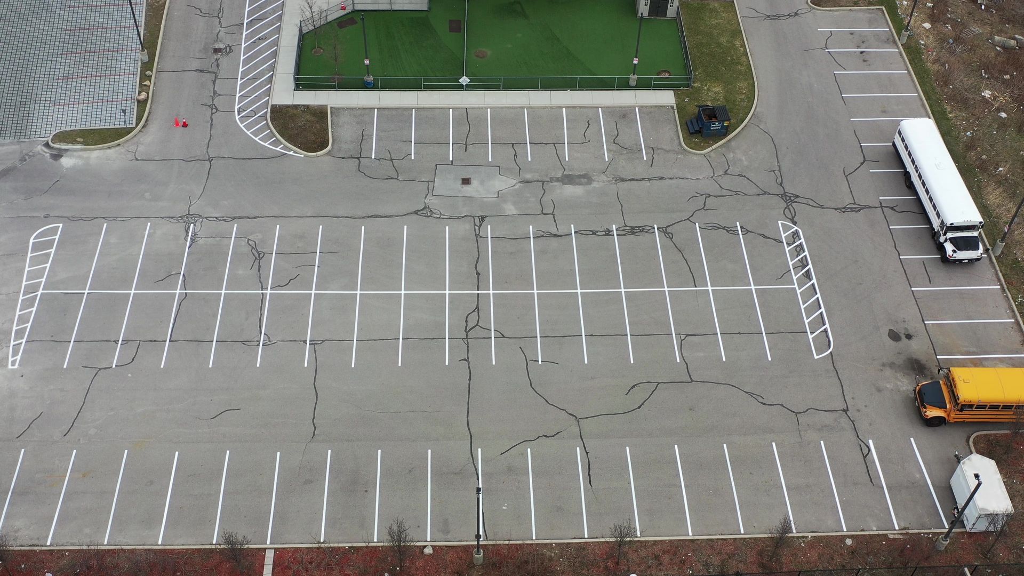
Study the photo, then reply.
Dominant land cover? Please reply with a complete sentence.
What you mostly see from above here is paved ground.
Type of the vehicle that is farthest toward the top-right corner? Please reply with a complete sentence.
It looks like the vehicle that is farthest toward the top-right corner is a bus.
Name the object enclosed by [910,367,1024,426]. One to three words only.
bus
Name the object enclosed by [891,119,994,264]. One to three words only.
bus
